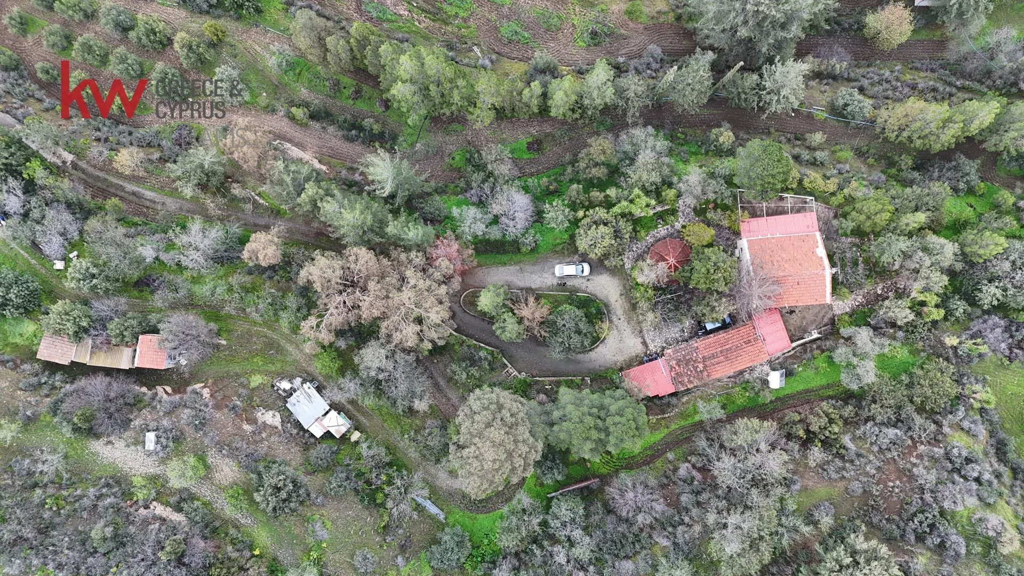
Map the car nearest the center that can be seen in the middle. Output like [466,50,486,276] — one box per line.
[554,261,590,278]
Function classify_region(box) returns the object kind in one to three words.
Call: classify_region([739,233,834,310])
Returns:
house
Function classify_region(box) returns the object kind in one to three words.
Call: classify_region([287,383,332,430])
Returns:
shed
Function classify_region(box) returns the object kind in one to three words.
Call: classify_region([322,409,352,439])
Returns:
shed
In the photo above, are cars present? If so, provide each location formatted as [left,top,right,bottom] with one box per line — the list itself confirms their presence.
[695,314,733,336]
[554,261,590,278]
